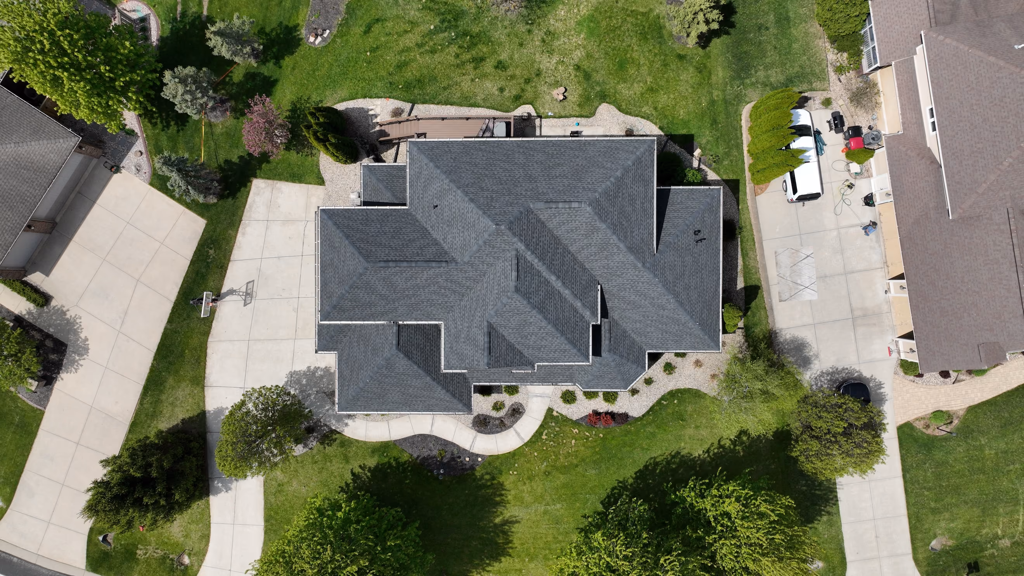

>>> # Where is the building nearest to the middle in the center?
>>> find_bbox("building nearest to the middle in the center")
[313,136,733,416]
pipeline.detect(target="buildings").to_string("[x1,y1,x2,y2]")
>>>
[313,136,733,416]
[0,86,103,287]
[850,0,1024,374]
